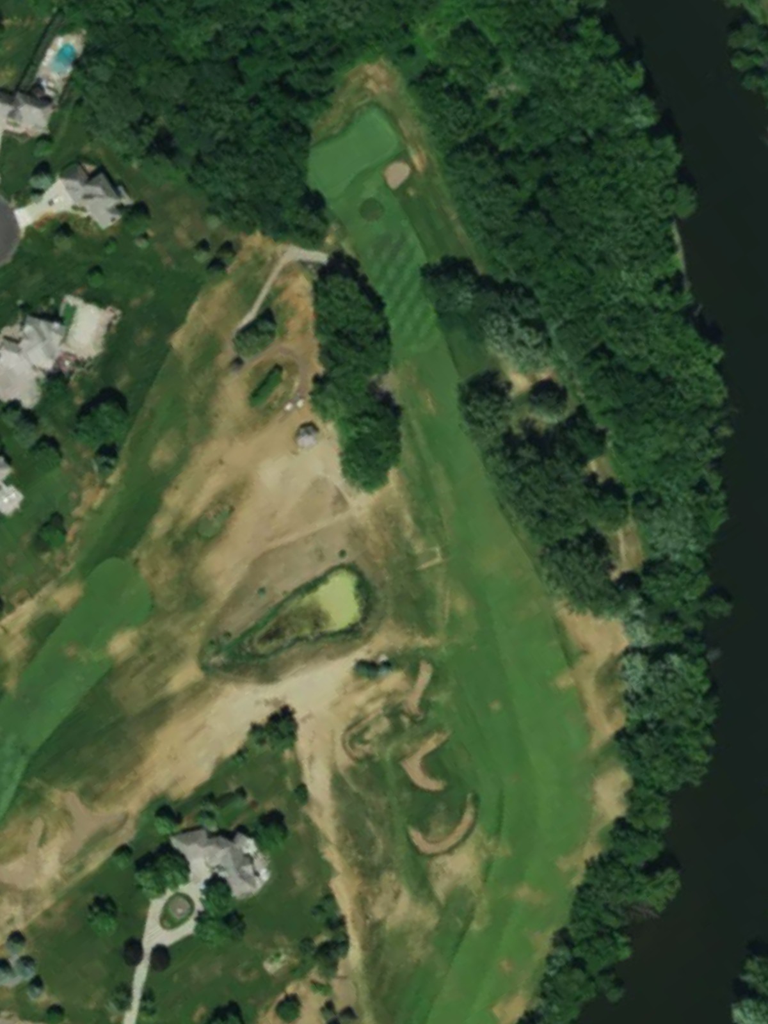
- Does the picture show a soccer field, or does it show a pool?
pool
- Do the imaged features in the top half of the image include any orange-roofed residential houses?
No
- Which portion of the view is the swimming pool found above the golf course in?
top left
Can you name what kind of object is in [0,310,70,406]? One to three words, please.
house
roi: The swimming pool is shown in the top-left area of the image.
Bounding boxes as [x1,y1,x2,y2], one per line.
[52,42,76,72]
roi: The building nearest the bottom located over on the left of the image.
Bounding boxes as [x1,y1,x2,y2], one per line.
[169,829,260,900]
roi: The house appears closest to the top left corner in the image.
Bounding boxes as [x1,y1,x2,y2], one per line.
[0,87,53,137]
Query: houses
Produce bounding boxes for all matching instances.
[0,310,70,406]
[0,87,53,137]
[0,465,25,516]
[169,829,260,900]
[57,162,124,230]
